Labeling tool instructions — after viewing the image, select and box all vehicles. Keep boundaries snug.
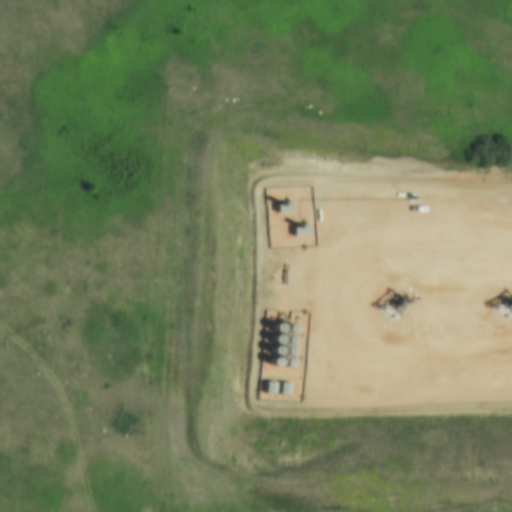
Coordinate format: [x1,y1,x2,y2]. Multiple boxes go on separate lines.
[398,191,421,202]
[412,206,430,214]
